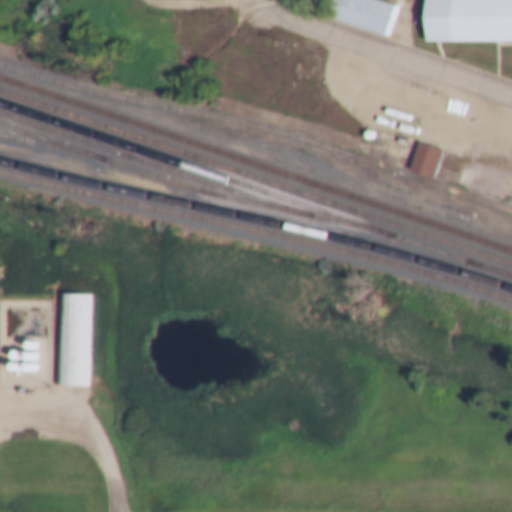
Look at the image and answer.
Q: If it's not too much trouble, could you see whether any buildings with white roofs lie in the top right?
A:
Yes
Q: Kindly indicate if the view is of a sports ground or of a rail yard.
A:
rail yard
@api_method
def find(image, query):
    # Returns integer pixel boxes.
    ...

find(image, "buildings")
[410,142,444,178]
[326,0,402,37]
[62,294,94,386]
[424,0,512,43]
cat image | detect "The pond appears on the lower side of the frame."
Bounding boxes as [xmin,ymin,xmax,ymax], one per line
[150,316,262,392]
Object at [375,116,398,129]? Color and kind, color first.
white vehicle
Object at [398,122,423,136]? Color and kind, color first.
white vehicle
